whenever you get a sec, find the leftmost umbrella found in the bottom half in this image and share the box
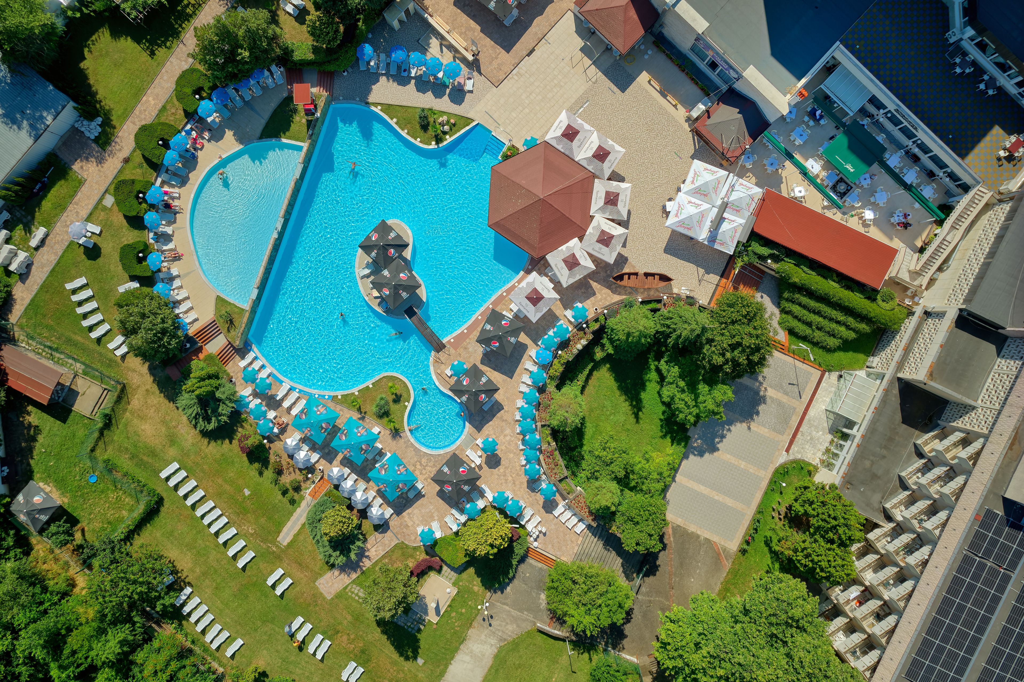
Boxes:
[12,480,62,532]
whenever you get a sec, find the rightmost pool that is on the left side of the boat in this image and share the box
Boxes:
[251,105,528,450]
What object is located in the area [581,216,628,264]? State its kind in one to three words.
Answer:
umbrella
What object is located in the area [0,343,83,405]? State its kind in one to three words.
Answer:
shed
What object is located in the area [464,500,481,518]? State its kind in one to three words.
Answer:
umbrella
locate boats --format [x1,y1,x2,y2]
[612,271,675,287]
